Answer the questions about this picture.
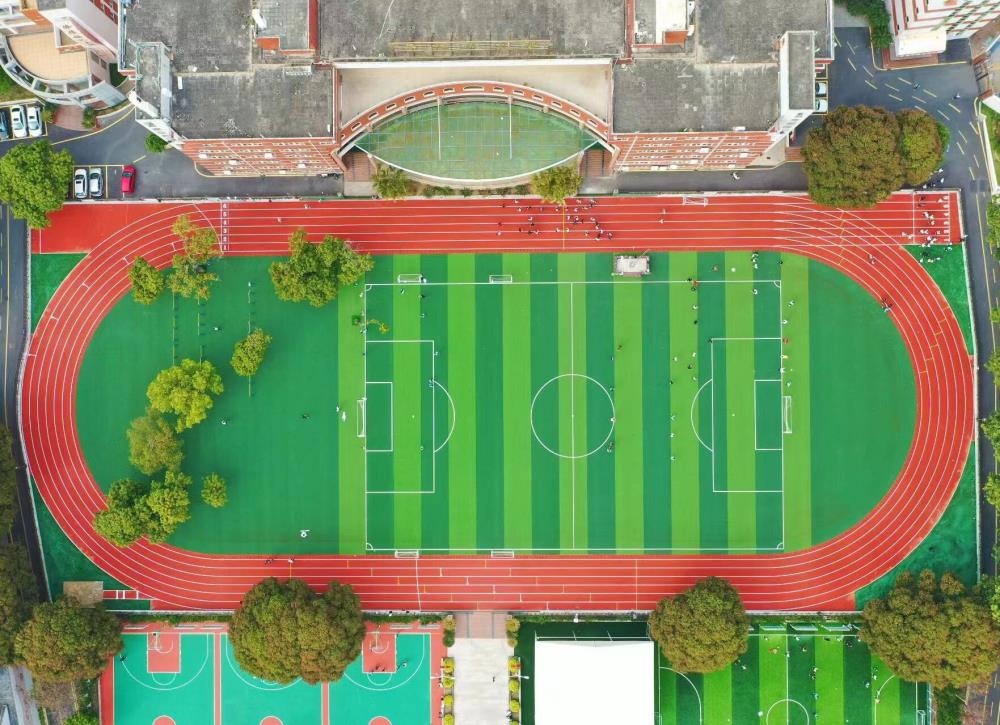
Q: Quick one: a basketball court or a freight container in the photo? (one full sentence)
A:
Visible in the photo is a basketball court.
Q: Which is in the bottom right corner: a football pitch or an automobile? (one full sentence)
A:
What appears in the bottom right corner is a football pitch.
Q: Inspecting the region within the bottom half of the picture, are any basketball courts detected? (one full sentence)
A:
Yes, within the bottom half of the picture there is a basketball court.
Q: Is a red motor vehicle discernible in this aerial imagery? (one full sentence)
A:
Yes, there is a red motor vehicle in the image.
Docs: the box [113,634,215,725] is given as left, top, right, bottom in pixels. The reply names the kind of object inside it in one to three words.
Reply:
basketball court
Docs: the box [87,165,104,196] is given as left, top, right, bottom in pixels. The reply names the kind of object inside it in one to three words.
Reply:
car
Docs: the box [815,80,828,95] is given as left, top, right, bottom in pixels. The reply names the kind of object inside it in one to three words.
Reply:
vehicle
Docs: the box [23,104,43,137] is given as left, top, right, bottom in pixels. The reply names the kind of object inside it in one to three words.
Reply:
car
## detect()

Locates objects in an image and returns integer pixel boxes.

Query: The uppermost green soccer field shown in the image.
[339,249,812,556]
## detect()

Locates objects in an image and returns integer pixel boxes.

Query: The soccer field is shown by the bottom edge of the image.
[659,624,928,725]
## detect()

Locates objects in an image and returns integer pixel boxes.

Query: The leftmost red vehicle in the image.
[119,163,137,192]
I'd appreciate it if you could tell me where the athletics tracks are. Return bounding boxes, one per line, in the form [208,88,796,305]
[21,192,976,612]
